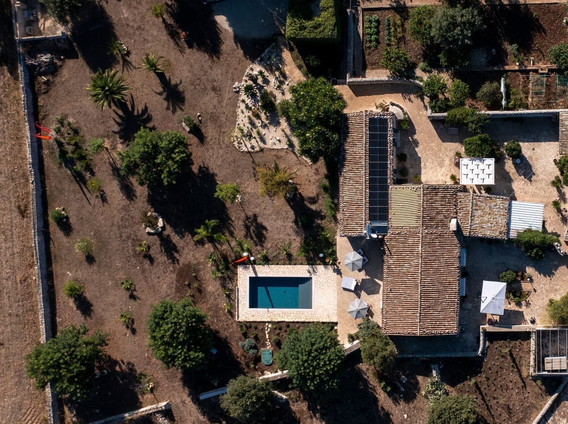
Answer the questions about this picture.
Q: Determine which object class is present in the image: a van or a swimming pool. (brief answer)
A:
swimming pool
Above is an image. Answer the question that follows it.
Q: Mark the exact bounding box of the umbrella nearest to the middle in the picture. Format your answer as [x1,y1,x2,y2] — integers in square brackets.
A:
[343,250,364,271]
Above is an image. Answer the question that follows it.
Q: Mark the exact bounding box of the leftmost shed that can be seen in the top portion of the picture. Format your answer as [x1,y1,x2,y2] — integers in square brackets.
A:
[286,0,345,47]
